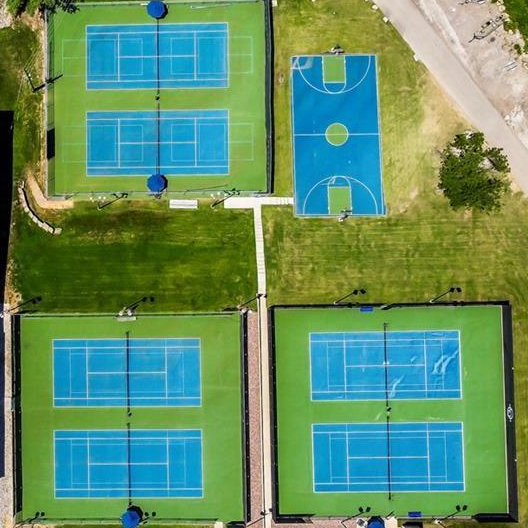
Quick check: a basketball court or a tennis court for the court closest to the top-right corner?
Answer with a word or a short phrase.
basketball court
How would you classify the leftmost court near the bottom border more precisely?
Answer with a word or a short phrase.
tennis court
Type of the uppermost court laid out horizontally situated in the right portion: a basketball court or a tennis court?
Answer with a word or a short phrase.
tennis court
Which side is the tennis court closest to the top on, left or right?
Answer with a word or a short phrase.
left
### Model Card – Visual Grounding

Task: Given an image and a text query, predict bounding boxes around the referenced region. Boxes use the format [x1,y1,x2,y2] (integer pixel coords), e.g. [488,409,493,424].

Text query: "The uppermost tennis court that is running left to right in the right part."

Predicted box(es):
[272,307,505,412]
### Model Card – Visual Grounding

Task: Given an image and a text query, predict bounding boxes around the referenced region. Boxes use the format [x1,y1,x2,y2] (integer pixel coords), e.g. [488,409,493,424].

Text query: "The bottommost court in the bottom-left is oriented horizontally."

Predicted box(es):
[18,418,245,522]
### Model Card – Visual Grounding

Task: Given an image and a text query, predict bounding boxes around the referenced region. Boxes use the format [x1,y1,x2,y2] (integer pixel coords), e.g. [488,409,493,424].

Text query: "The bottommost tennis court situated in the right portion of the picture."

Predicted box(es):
[272,410,508,517]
